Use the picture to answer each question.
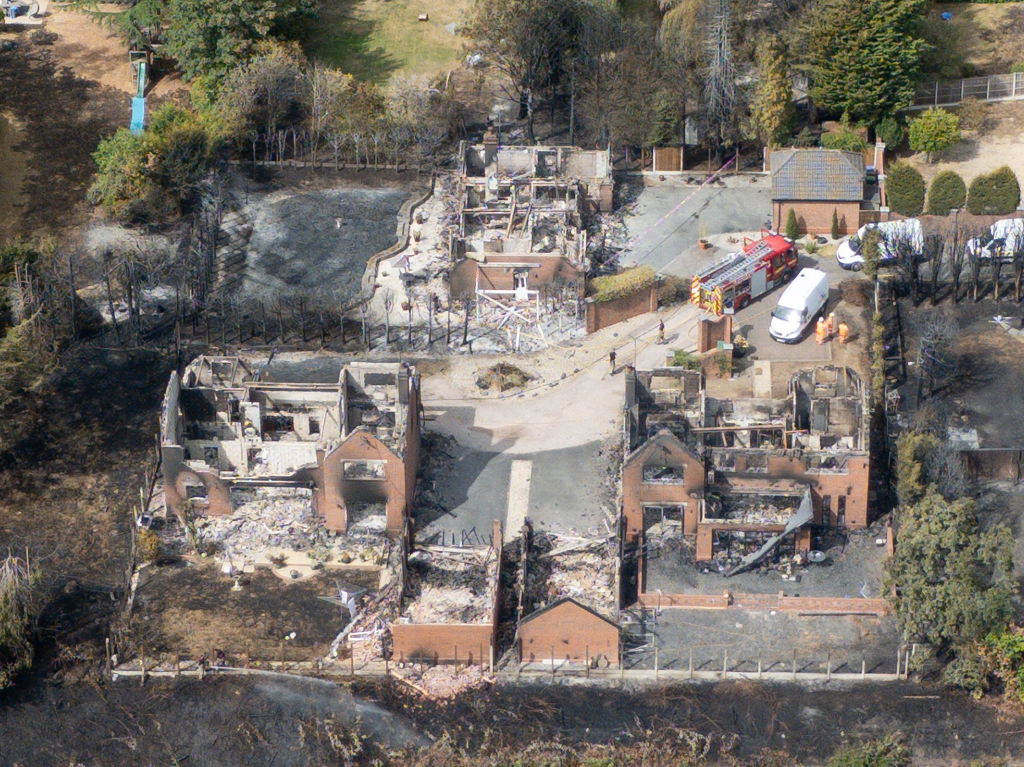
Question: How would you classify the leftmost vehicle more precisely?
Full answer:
It looks like the leftmost vehicle is a truck.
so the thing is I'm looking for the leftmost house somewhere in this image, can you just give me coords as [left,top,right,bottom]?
[156,354,421,533]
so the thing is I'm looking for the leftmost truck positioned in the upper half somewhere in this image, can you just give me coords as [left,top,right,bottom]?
[691,220,798,309]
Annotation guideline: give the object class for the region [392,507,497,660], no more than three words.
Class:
building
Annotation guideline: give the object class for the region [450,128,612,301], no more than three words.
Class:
house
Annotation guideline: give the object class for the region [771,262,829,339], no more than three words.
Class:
van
